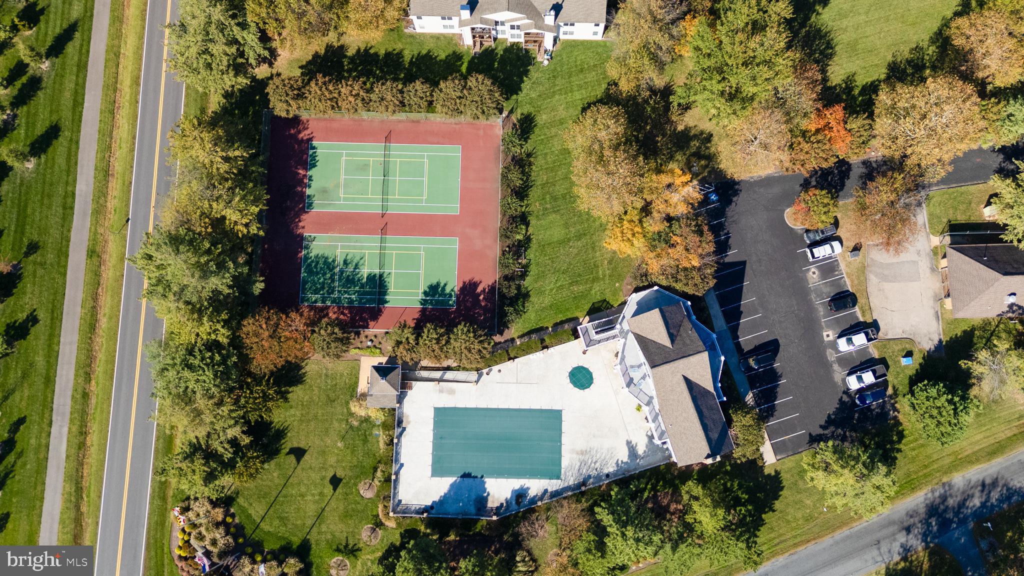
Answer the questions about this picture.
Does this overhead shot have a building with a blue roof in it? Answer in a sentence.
No, I can see no building with a blue roof in this picture.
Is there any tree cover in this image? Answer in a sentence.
Yes, some tree cover is visible.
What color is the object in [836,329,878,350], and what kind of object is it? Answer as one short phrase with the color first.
white truck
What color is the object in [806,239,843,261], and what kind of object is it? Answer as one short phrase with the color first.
white car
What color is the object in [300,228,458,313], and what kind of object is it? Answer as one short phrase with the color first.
green tennis court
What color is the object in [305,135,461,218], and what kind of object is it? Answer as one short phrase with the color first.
green tennis court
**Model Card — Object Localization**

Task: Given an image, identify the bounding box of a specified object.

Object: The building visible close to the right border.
[946,244,1024,318]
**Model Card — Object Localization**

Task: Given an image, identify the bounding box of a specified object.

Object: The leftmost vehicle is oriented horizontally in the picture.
[739,350,778,372]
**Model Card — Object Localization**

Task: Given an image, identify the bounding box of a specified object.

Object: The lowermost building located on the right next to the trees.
[613,287,735,468]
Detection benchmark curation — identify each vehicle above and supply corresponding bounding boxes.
[845,366,888,387]
[801,225,839,243]
[806,239,843,261]
[836,329,878,350]
[827,294,858,312]
[739,350,778,372]
[853,387,889,405]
